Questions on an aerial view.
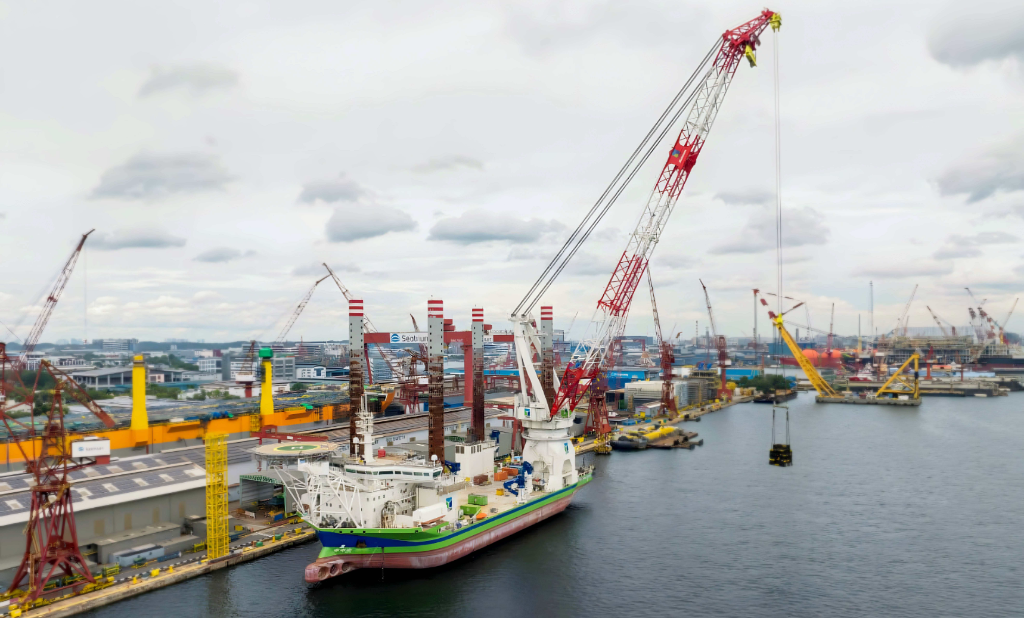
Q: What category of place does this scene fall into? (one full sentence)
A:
This looks like a port.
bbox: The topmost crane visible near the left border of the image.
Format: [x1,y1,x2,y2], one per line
[5,229,95,418]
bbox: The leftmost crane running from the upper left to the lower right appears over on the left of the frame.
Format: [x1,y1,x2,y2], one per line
[323,264,428,415]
